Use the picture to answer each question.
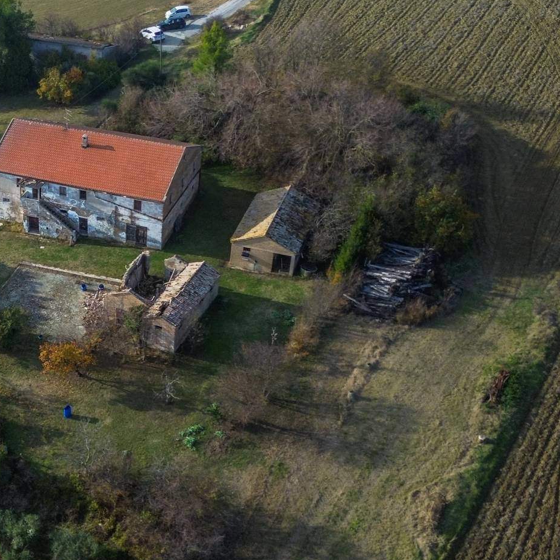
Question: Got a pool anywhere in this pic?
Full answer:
No, there isn't any pool down there.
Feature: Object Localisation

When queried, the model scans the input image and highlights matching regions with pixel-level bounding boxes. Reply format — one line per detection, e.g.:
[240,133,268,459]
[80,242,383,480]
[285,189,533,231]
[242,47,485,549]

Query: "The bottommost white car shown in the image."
[140,28,167,42]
